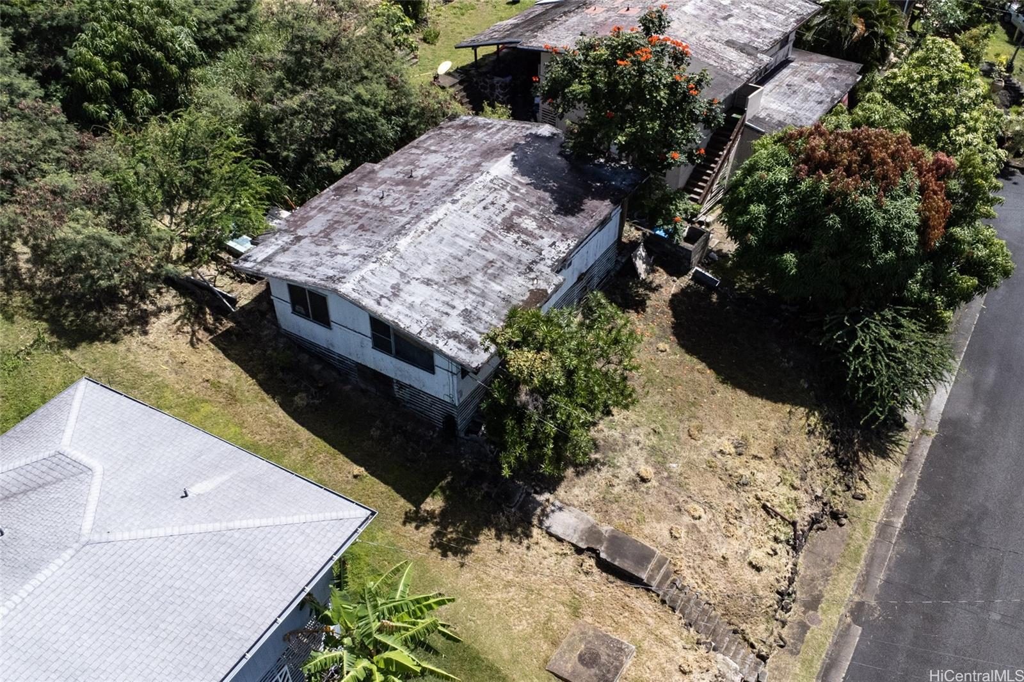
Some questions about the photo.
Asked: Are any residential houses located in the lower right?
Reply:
No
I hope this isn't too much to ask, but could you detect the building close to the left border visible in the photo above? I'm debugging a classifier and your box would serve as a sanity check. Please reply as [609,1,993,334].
[0,373,379,682]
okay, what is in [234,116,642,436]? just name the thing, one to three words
house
